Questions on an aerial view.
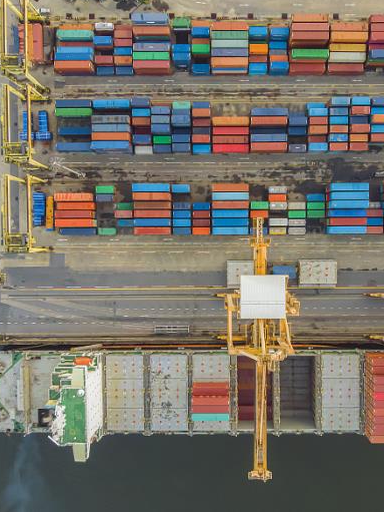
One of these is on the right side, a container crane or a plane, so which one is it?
container crane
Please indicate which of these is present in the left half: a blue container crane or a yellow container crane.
yellow container crane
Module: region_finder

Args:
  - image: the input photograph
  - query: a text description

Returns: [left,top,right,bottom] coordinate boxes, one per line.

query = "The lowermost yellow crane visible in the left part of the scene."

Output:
[0,170,57,255]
